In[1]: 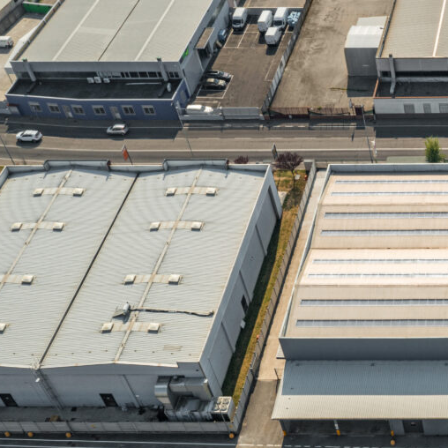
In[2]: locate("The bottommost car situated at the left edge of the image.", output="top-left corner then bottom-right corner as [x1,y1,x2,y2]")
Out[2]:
[14,128,44,142]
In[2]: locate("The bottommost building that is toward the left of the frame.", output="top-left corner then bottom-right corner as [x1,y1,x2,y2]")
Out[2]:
[0,159,277,408]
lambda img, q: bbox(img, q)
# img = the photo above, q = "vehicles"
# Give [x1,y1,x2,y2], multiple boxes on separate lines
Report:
[270,3,289,30]
[0,34,15,48]
[14,128,44,142]
[254,11,273,33]
[214,29,233,41]
[104,123,131,135]
[229,5,247,31]
[203,76,229,88]
[261,26,282,49]
[204,68,233,79]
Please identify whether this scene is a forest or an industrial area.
industrial area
